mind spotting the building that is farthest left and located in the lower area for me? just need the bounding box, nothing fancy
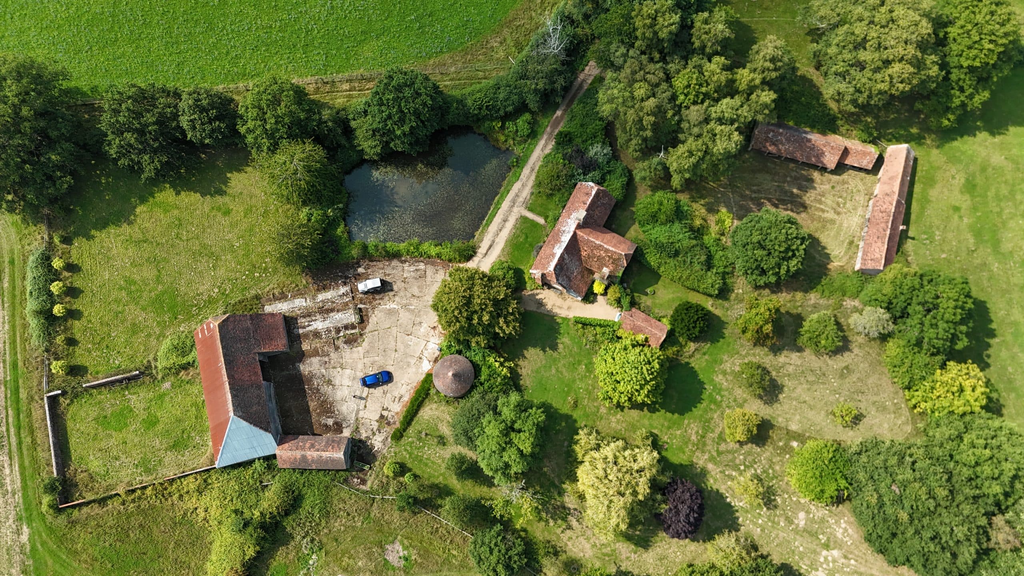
[194,313,292,468]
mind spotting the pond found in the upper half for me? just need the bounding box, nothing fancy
[344,128,512,245]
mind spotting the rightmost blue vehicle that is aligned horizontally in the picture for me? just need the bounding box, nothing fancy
[358,370,393,389]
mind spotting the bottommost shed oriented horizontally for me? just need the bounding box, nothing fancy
[275,436,350,469]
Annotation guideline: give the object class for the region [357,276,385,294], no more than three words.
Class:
car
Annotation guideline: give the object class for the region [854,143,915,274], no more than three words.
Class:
building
